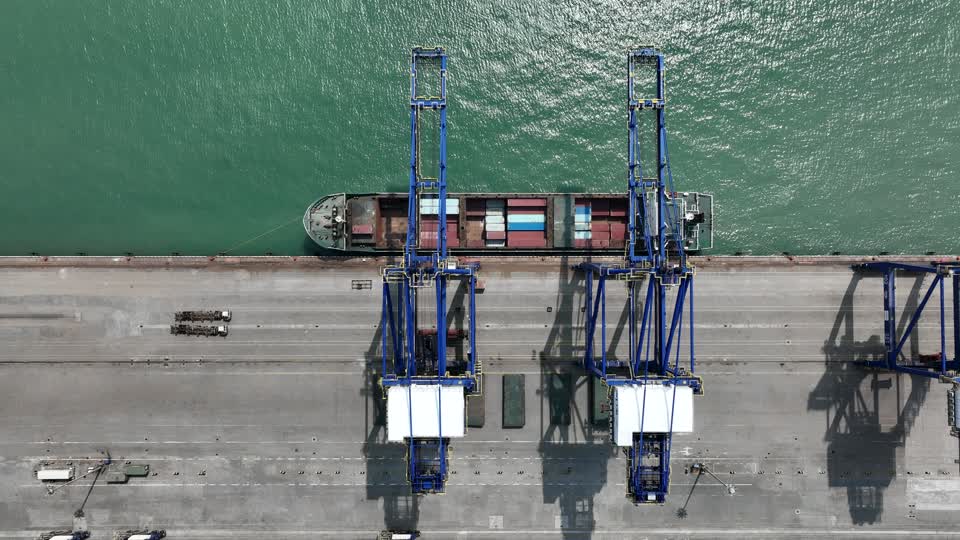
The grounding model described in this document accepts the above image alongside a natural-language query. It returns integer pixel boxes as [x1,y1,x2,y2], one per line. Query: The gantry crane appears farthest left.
[375,43,486,491]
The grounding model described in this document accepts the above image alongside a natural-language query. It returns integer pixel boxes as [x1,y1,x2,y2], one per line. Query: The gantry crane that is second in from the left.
[571,43,712,502]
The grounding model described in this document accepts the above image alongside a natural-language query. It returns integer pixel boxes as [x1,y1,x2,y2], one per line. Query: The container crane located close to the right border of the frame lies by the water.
[851,247,960,488]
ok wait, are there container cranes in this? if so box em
[375,43,486,491]
[851,247,960,488]
[571,43,712,502]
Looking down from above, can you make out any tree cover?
No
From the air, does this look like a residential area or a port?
port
